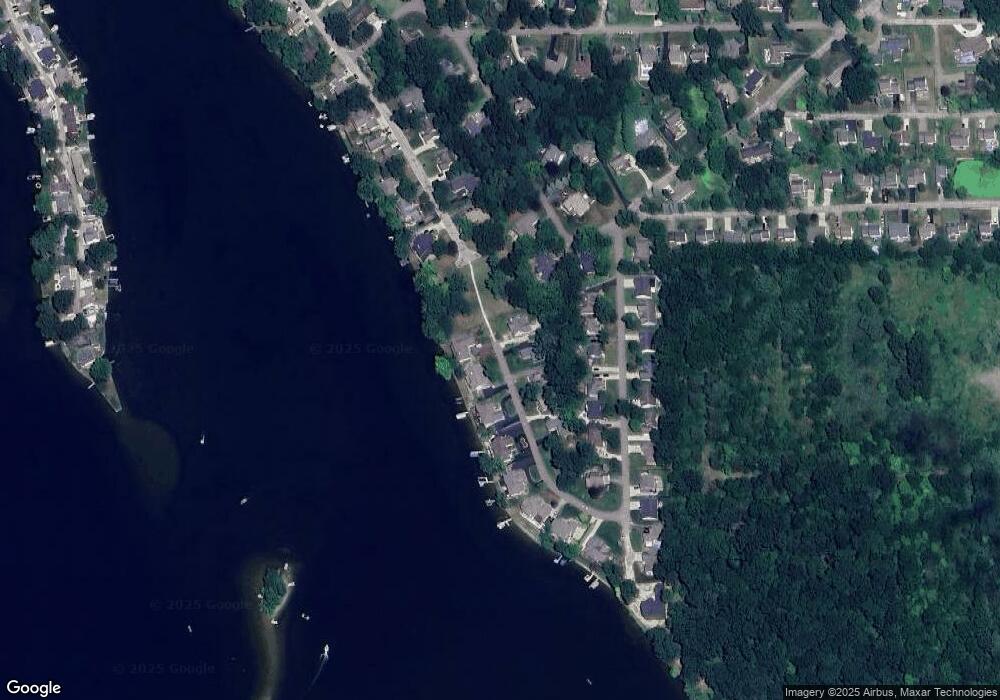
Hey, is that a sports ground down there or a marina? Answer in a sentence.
This image shows a marina.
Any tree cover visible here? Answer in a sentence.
Yes, some tree cover is visible.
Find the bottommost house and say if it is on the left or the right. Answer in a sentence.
The bottommost house is on the right side of the image.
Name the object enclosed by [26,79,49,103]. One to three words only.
house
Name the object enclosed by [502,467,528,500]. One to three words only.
house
